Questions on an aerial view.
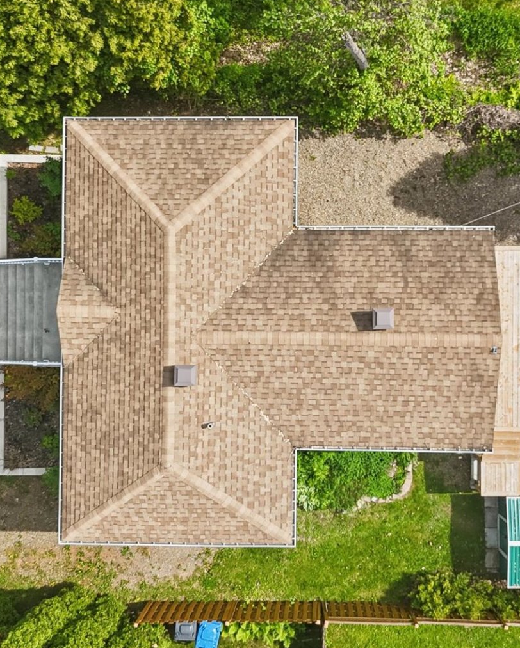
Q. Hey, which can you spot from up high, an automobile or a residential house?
residential house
